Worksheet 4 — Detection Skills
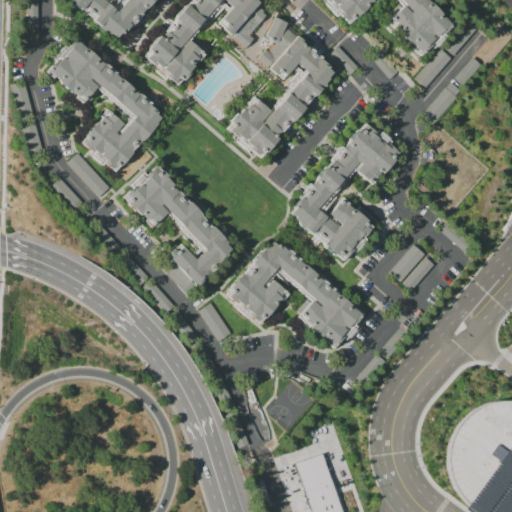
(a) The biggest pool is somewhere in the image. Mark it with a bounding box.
[188,49,254,122]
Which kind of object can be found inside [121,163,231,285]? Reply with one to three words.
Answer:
building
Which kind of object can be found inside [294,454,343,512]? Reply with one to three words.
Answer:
building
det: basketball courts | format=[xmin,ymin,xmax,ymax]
[268,381,312,430]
